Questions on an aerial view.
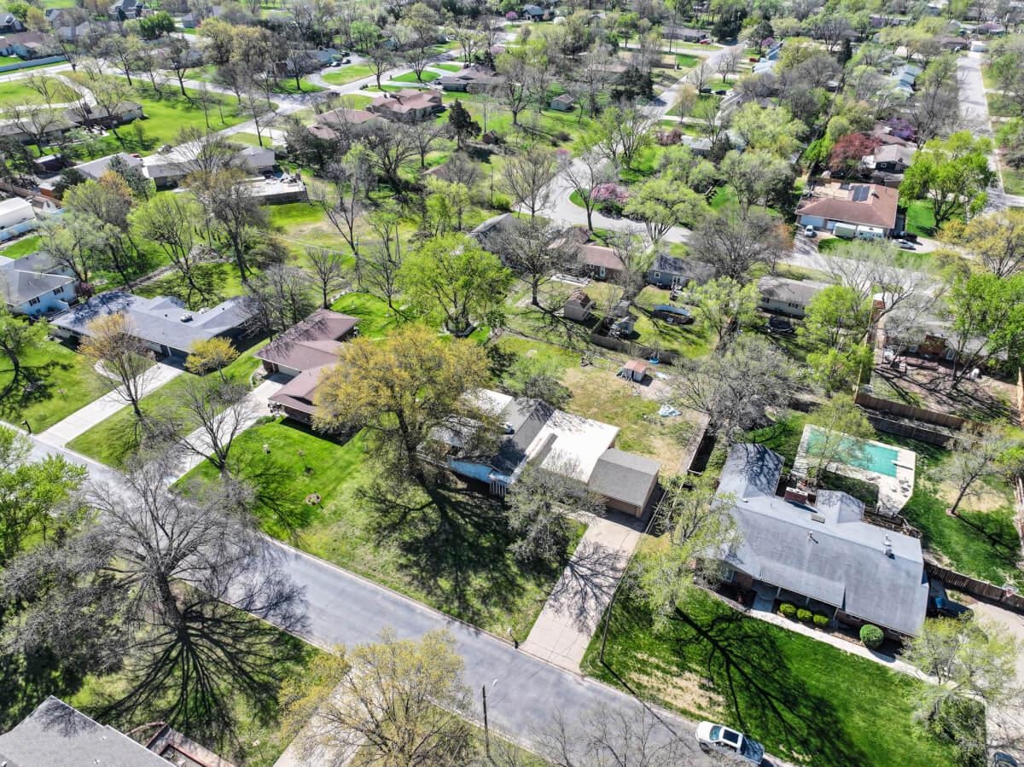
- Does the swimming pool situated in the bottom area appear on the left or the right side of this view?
right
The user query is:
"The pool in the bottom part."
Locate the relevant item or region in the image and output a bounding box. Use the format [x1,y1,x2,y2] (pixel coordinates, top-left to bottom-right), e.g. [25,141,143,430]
[790,424,915,515]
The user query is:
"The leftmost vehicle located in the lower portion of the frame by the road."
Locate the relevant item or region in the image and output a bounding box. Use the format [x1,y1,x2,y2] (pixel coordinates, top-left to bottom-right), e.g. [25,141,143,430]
[694,721,769,767]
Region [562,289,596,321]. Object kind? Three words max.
shed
